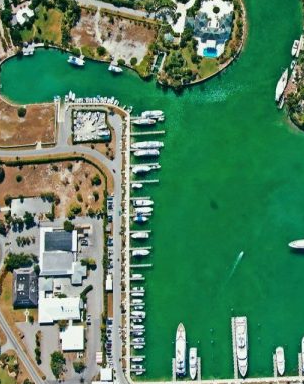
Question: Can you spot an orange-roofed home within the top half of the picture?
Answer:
No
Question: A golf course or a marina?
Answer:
marina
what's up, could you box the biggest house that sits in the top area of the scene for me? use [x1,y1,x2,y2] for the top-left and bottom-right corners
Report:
[184,10,234,45]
